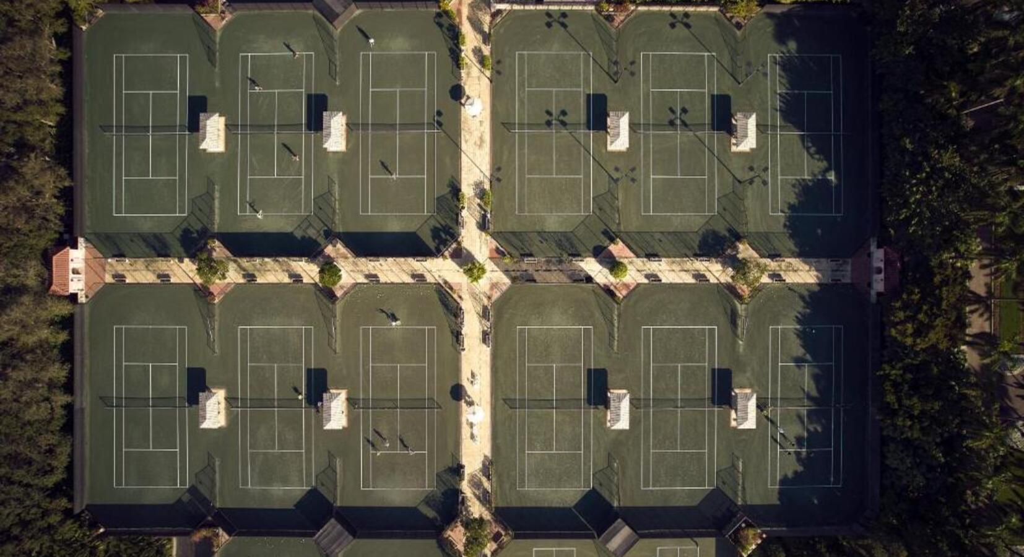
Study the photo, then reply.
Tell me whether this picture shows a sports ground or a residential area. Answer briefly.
sports ground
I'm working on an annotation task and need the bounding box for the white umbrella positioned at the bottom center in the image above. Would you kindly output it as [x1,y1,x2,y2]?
[466,405,483,422]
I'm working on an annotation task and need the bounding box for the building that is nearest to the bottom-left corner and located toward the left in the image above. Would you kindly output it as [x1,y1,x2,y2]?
[199,389,226,430]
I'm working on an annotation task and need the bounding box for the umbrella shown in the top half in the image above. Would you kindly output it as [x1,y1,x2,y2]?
[465,97,481,114]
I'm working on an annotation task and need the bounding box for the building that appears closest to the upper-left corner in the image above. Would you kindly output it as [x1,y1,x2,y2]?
[199,112,226,153]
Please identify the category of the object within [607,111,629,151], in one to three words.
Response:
building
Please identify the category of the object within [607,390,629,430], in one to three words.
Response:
building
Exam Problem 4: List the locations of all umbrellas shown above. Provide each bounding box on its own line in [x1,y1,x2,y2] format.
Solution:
[466,405,483,422]
[465,97,481,114]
